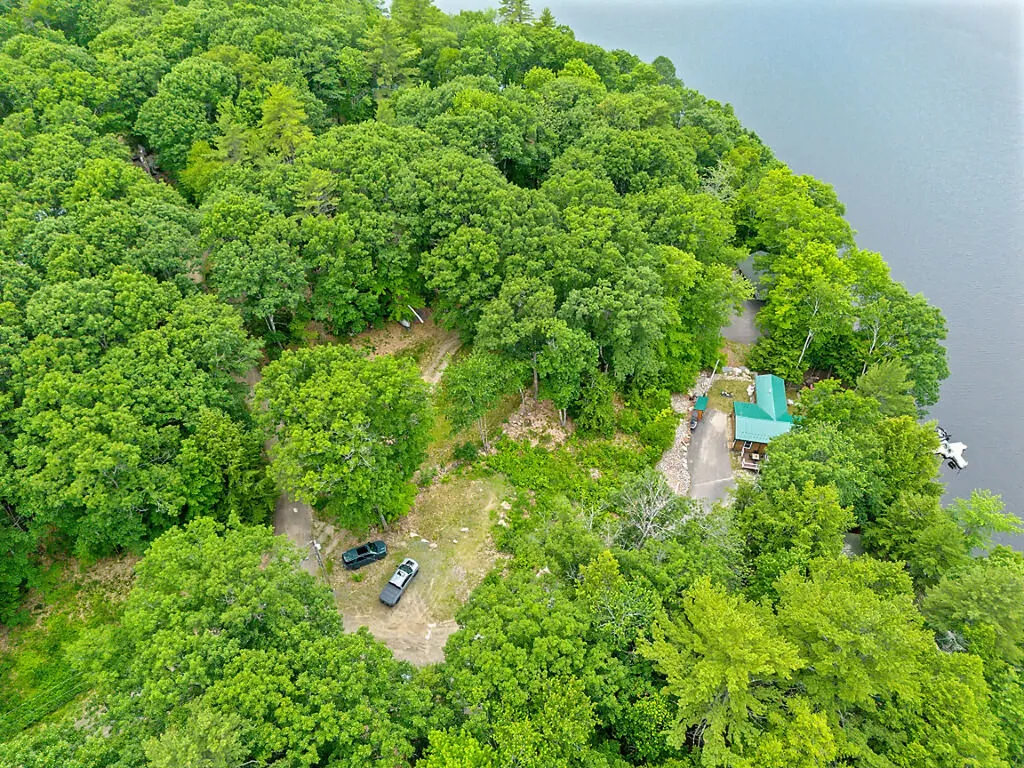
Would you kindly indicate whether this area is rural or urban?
rural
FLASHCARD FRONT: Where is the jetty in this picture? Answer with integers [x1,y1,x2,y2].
[926,440,969,471]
